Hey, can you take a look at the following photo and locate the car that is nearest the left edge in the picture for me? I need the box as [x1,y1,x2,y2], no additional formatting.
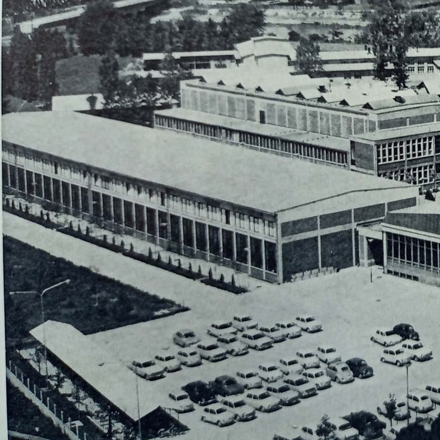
[129,358,164,381]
